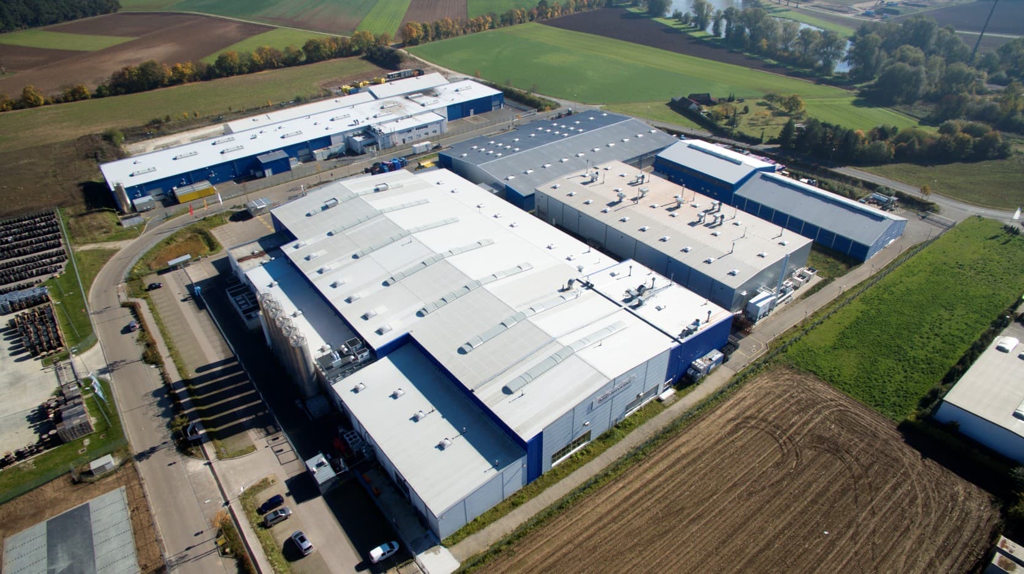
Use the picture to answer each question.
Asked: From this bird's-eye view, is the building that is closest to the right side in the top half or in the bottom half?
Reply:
bottom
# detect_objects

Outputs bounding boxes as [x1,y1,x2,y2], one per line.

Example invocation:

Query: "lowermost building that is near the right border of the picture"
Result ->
[933,330,1024,475]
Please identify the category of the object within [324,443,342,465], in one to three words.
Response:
work vehicle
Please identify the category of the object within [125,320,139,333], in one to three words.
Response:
vehicle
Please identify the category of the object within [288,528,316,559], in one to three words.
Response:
car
